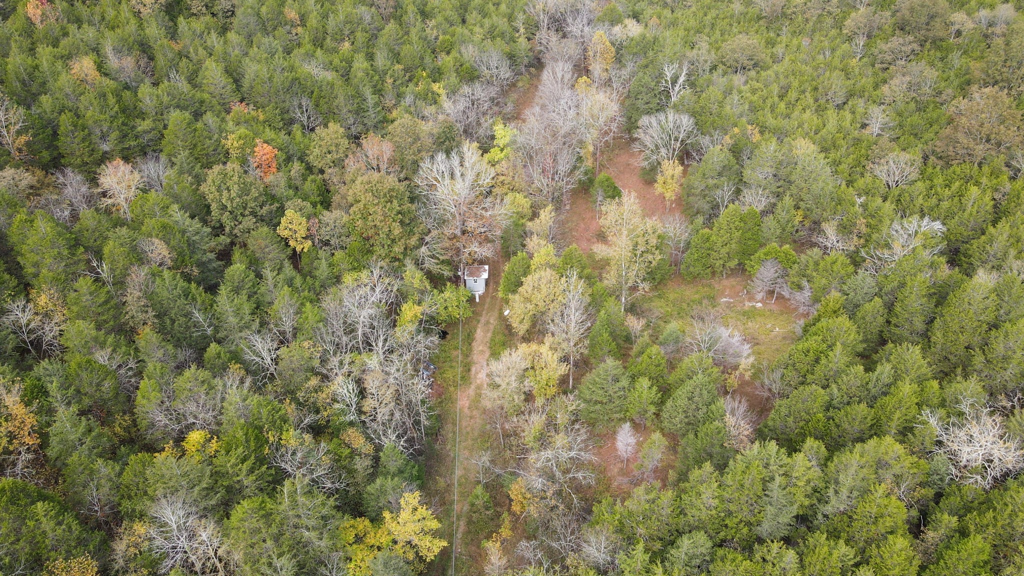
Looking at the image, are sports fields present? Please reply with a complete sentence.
No, the frame has no sports field in it.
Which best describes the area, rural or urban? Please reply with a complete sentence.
It looks rural.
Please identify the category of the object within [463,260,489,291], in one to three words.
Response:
shed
